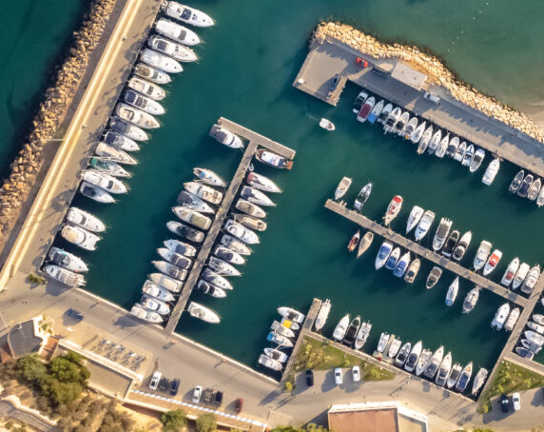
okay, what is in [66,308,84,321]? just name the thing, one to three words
vehicle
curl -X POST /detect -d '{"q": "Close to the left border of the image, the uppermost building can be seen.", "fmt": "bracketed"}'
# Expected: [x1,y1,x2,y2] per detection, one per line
[0,315,60,363]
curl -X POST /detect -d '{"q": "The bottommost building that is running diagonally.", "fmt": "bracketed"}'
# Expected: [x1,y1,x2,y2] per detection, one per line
[61,346,136,401]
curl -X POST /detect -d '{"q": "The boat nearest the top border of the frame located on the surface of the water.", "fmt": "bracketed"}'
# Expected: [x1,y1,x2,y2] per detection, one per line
[161,1,214,26]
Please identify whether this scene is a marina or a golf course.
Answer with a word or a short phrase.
marina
